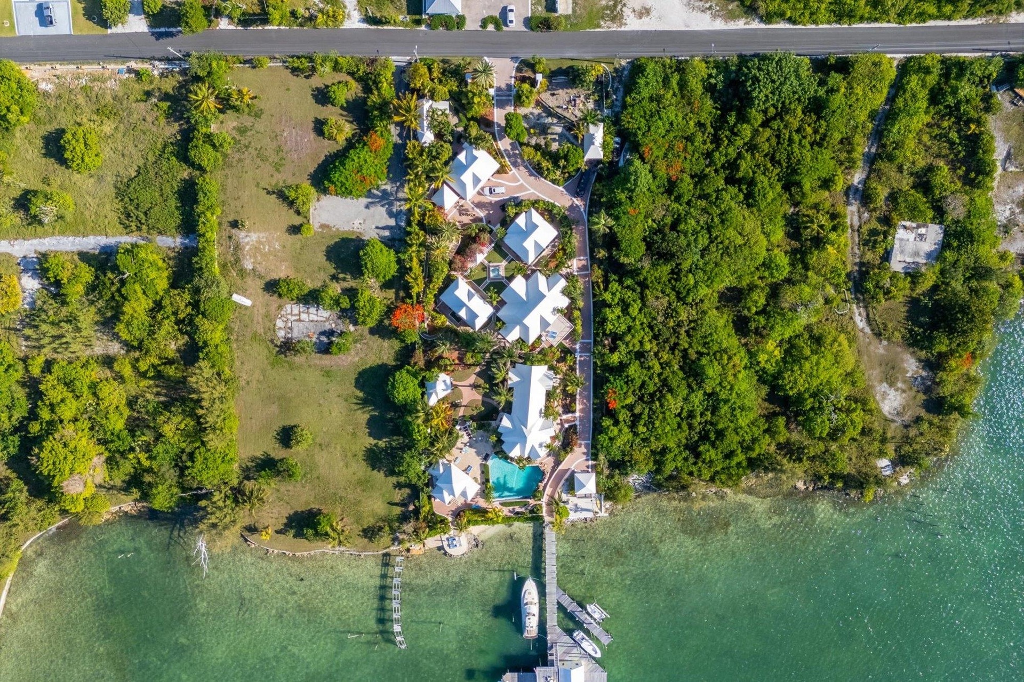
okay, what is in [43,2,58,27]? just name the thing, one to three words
vehicle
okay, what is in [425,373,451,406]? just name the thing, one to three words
building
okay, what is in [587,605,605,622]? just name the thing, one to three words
boat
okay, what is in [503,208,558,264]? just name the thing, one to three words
house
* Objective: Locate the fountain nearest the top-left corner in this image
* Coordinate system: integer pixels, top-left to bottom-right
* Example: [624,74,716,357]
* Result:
[487,263,505,281]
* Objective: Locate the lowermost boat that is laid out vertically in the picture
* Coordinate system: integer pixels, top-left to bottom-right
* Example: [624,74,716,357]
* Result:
[522,578,539,638]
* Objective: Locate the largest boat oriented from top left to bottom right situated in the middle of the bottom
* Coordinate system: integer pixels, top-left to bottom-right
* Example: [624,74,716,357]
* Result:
[574,632,601,659]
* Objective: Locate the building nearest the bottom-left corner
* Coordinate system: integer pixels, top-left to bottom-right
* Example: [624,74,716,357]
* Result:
[431,460,480,506]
